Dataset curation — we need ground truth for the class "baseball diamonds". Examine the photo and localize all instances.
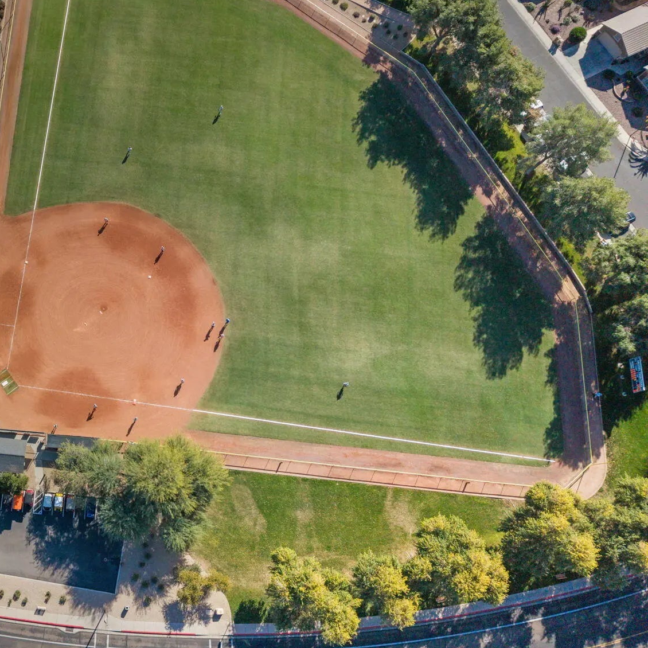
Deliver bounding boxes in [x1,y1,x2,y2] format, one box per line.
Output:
[0,0,608,499]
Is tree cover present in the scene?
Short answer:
Yes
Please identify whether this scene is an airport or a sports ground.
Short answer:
sports ground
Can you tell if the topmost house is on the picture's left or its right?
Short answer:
right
